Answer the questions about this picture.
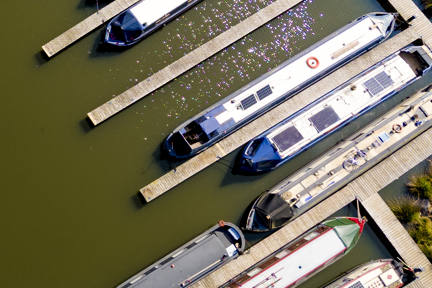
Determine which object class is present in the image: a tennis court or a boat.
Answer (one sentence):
This aerial view contains a boat.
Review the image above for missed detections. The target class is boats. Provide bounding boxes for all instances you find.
[234,39,432,172]
[157,13,394,161]
[115,223,242,288]
[220,217,365,288]
[323,257,419,288]
[100,0,199,47]
[240,82,432,232]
